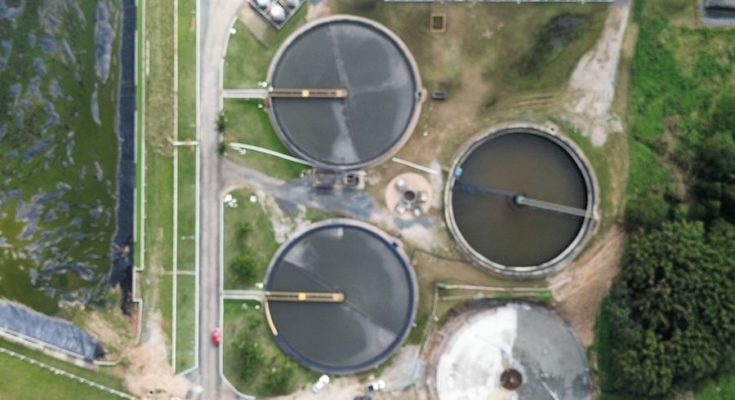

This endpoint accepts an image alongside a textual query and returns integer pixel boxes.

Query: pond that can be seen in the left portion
[0,0,122,319]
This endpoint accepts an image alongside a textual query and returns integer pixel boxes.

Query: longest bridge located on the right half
[452,187,604,220]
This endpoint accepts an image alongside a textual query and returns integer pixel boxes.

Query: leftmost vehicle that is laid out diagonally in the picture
[311,374,329,395]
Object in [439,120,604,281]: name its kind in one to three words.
storage tank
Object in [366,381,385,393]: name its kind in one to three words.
vehicle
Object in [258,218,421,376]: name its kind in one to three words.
storage tank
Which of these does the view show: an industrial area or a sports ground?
industrial area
